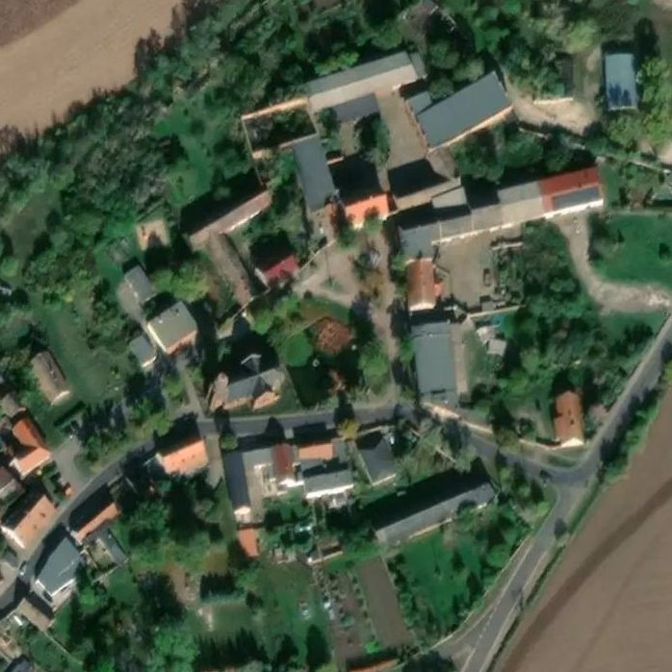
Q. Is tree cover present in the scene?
Yes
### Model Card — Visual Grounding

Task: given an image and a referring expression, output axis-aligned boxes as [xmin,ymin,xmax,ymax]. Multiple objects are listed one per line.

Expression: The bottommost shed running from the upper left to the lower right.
[17,596,55,633]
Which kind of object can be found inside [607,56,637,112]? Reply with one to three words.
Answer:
shed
